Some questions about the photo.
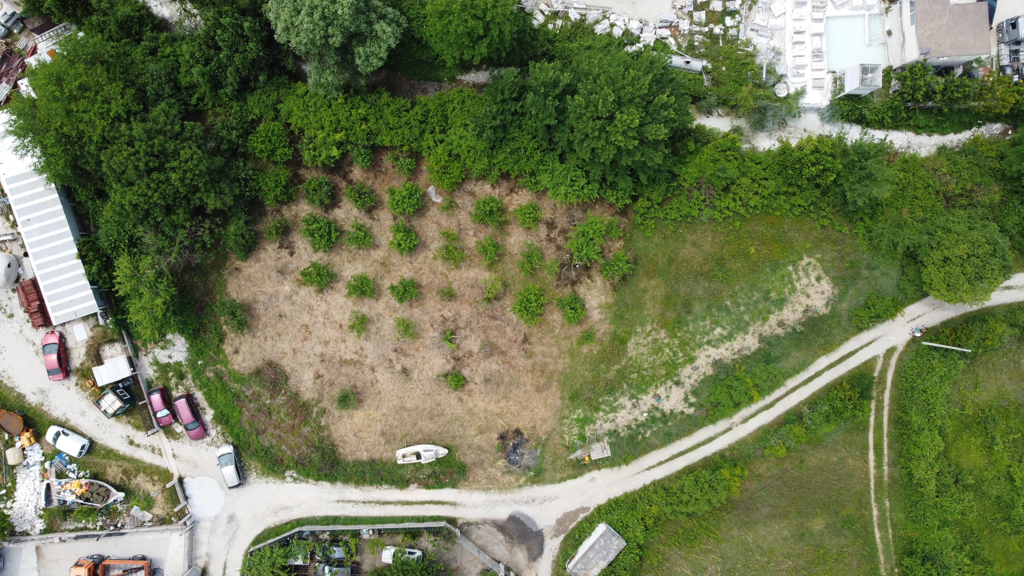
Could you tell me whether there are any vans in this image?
Yes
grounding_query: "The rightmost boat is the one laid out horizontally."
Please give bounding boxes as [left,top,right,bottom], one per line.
[396,444,448,464]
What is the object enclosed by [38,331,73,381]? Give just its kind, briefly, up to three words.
car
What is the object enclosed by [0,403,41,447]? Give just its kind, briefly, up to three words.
truck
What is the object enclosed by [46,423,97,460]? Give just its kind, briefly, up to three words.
van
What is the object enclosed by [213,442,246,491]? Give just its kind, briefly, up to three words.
car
